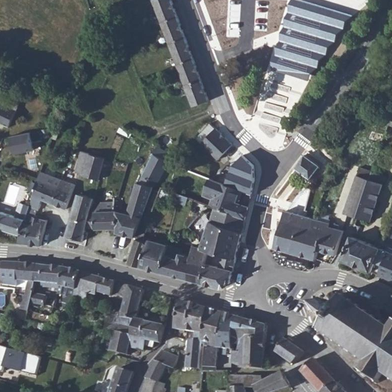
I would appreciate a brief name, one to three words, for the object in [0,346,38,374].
house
